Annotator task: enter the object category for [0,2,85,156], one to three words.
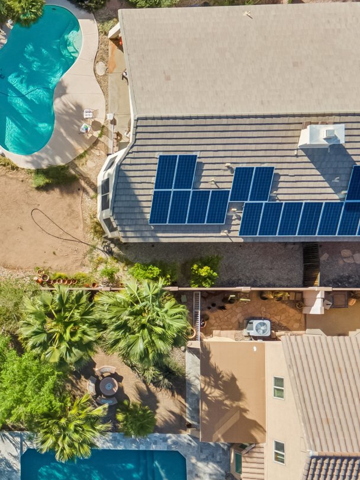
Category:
swimming pool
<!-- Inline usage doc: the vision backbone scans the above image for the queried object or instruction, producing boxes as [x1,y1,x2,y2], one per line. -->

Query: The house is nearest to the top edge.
[97,1,360,242]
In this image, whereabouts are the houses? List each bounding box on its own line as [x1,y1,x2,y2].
[97,1,360,242]
[195,335,360,480]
